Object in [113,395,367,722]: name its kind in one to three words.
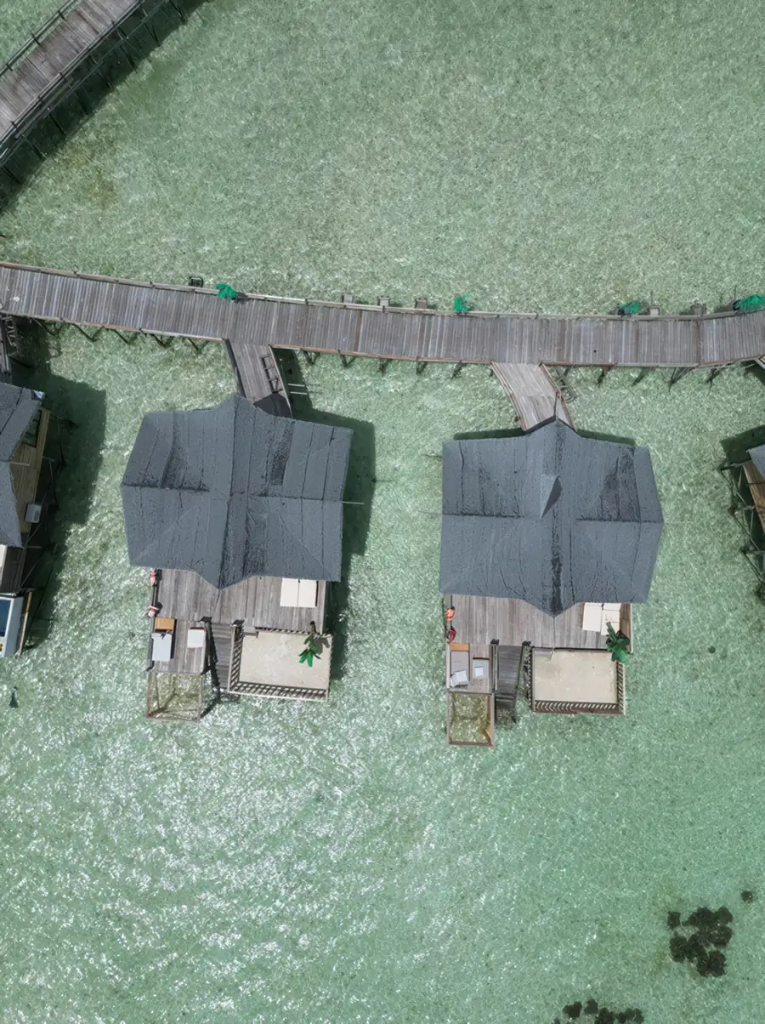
house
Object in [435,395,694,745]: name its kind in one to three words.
house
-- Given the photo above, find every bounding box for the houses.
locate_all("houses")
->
[711,442,765,611]
[113,395,367,722]
[0,391,72,663]
[435,395,694,745]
